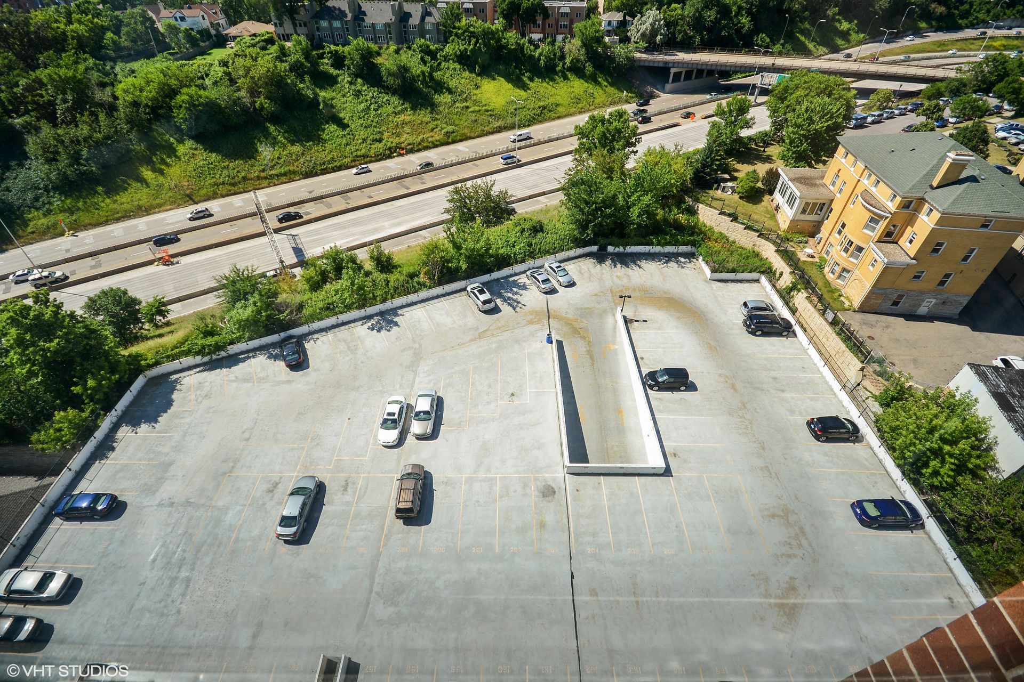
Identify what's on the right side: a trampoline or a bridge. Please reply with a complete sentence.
The one visible on the right side is a bridge.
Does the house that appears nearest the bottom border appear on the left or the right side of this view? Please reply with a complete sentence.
It is on the left.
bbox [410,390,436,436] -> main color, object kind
white car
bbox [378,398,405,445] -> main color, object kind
white car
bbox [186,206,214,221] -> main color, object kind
gray car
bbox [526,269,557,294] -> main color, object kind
gray car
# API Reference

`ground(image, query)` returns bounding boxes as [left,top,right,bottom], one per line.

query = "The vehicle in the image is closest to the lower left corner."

[0,611,51,648]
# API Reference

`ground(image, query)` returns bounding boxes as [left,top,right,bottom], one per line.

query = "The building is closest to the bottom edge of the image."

[0,477,58,552]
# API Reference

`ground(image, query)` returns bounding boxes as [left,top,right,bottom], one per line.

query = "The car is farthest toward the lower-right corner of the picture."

[846,496,931,532]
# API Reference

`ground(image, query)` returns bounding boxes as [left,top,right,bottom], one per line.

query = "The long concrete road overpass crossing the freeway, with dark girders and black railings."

[627,37,964,87]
